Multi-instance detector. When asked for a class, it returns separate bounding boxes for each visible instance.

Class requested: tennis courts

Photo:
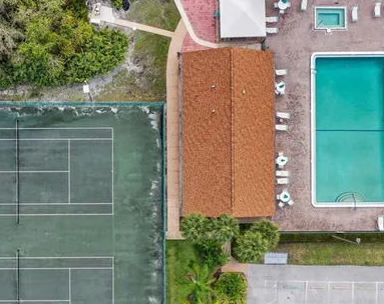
[0,108,164,236]
[0,236,164,304]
